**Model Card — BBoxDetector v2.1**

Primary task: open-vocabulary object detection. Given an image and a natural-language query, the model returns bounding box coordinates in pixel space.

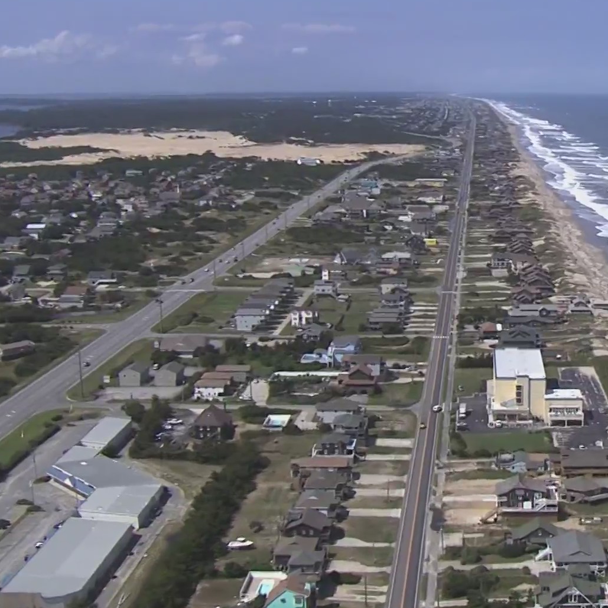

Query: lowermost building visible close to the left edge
[0,516,133,608]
